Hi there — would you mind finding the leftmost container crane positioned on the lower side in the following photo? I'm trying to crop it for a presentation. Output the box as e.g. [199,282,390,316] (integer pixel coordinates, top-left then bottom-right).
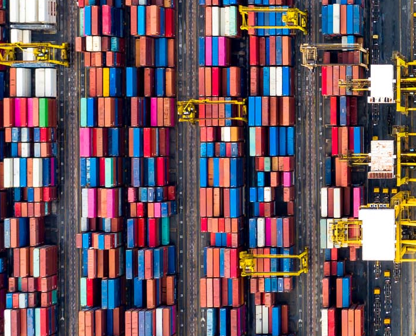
[239,243,312,280]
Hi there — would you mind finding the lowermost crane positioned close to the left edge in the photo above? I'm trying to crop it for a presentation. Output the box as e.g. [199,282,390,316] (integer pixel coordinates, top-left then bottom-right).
[0,42,75,71]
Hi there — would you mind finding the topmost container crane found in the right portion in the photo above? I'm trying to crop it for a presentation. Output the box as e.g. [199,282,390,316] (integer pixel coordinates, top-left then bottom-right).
[239,5,312,37]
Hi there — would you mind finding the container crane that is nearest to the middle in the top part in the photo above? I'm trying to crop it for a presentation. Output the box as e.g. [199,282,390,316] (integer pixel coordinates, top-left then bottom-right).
[176,96,248,126]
